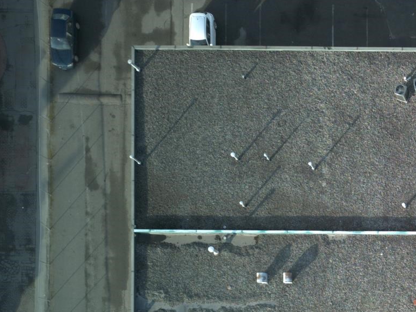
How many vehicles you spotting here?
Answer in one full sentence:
The number of vehicles here is 2.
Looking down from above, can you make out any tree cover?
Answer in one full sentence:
No, there's no tree cover in this view.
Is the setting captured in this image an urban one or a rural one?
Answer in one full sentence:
The land in this view is best described as urban.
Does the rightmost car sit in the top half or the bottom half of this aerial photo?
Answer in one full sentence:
The rightmost car is in the top half of the image.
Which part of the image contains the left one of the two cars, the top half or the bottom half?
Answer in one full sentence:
Seen from above, the left one of the two cars lies in the top half of the view.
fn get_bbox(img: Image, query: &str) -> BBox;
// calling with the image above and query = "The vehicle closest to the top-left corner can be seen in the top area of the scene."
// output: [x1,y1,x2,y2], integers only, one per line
[47,7,85,76]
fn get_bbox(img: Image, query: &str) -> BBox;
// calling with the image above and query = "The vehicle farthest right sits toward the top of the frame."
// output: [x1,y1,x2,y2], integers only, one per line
[186,5,220,47]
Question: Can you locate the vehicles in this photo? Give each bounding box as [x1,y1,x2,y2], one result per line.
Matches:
[47,7,85,76]
[186,5,220,47]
